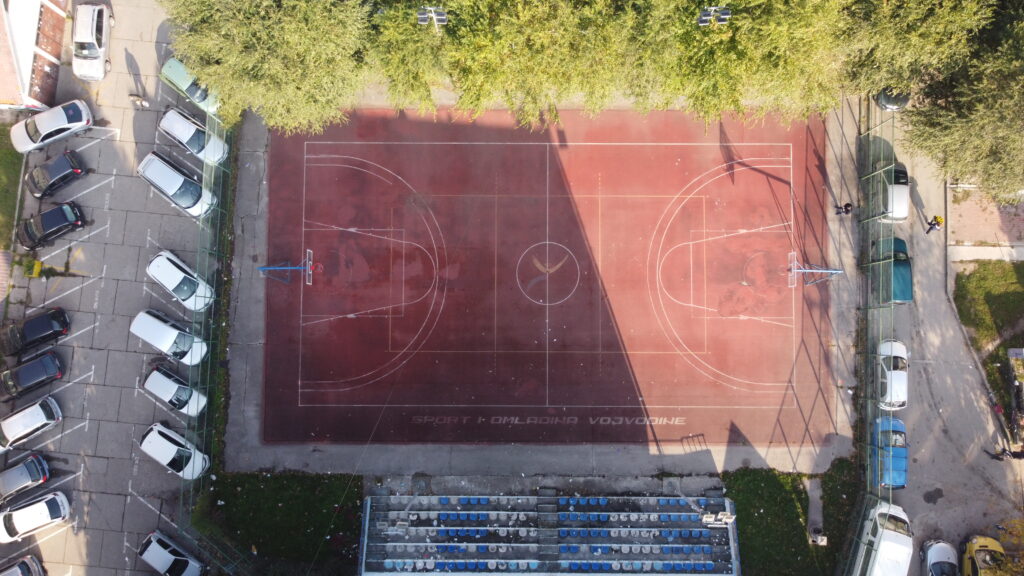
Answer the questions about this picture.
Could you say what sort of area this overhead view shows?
sports ground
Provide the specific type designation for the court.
basketball court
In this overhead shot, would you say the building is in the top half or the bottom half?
top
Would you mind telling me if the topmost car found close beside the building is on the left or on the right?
left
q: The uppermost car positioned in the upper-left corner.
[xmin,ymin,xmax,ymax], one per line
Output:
[71,11,115,84]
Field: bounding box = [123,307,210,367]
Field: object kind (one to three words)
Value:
van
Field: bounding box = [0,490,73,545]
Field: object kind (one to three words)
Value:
car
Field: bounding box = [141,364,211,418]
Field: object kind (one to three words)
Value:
car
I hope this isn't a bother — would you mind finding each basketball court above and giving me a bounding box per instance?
[261,109,837,448]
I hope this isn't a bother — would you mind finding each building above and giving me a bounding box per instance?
[0,0,68,125]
